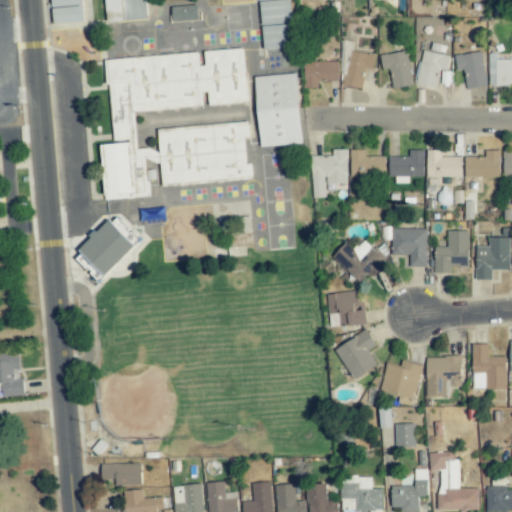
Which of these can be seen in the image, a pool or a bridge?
pool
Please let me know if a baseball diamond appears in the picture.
Yes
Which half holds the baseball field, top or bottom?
bottom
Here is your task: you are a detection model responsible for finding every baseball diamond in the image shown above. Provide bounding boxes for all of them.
[97,240,332,457]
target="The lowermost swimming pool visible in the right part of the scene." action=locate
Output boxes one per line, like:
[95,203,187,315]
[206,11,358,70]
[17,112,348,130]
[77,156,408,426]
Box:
[332,384,364,404]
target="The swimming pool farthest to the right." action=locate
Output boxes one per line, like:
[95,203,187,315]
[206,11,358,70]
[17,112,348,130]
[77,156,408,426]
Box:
[430,221,448,237]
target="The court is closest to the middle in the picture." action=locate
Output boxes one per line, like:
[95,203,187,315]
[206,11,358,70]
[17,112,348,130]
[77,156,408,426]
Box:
[268,200,296,250]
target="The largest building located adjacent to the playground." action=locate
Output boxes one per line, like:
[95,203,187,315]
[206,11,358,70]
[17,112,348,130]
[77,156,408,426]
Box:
[100,48,248,200]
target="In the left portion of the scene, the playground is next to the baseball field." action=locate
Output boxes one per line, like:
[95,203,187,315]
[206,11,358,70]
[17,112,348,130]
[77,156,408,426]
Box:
[163,204,213,262]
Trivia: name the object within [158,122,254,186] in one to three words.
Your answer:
building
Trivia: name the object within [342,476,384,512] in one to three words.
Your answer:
house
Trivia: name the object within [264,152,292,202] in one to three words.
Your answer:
basketball court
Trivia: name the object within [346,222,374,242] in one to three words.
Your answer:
swimming pool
